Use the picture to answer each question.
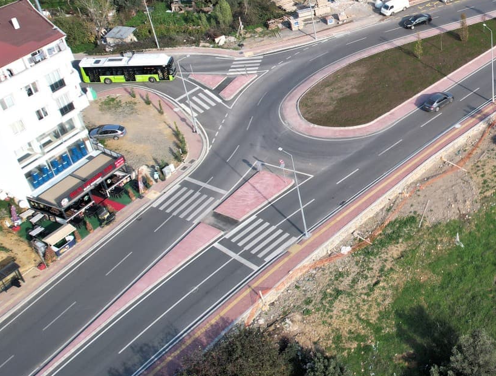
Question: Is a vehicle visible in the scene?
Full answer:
Yes, a vehicle can be made out from above.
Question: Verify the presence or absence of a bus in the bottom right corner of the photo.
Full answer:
No, no bus appears in the bottom right corner of the photo.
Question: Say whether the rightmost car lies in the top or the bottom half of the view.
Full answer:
You can find the rightmost car in the top half.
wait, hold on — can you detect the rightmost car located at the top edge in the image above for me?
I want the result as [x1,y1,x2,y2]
[403,11,432,27]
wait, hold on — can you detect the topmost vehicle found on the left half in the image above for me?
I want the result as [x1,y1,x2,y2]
[79,51,174,82]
